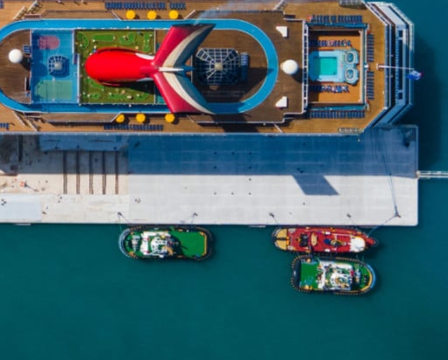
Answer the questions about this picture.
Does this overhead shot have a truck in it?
No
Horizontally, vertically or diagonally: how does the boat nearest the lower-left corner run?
horizontally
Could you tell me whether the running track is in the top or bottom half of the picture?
top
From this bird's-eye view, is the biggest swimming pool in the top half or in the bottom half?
top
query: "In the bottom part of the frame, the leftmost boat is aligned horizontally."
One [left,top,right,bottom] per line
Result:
[118,226,213,262]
